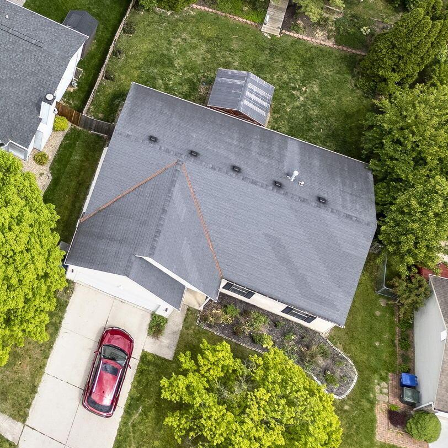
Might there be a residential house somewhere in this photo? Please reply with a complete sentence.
Yes, you can see a residential house in this photo.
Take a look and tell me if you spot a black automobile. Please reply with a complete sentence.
No, no black automobile is visible in the view.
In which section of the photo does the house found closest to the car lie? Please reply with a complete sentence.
The house found closest to the car is located in the center region of the scene.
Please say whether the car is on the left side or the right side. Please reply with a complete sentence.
The car is on the left side of the image.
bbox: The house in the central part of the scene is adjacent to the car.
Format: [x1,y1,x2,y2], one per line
[64,81,380,332]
